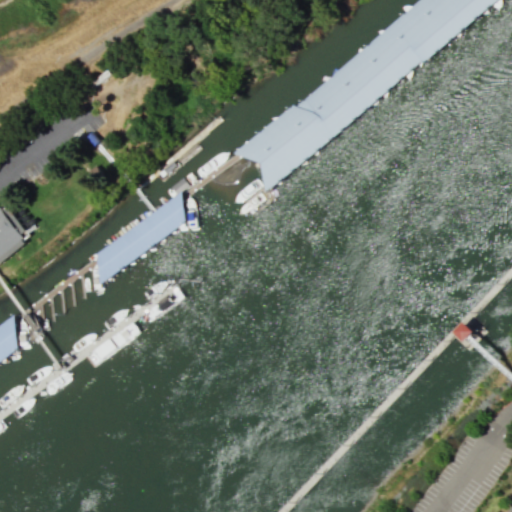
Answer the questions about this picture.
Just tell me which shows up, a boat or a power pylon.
boat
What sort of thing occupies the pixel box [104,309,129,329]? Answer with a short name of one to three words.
boat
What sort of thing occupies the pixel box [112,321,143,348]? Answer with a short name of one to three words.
boat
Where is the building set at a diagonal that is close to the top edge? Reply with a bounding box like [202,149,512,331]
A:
[235,0,498,190]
